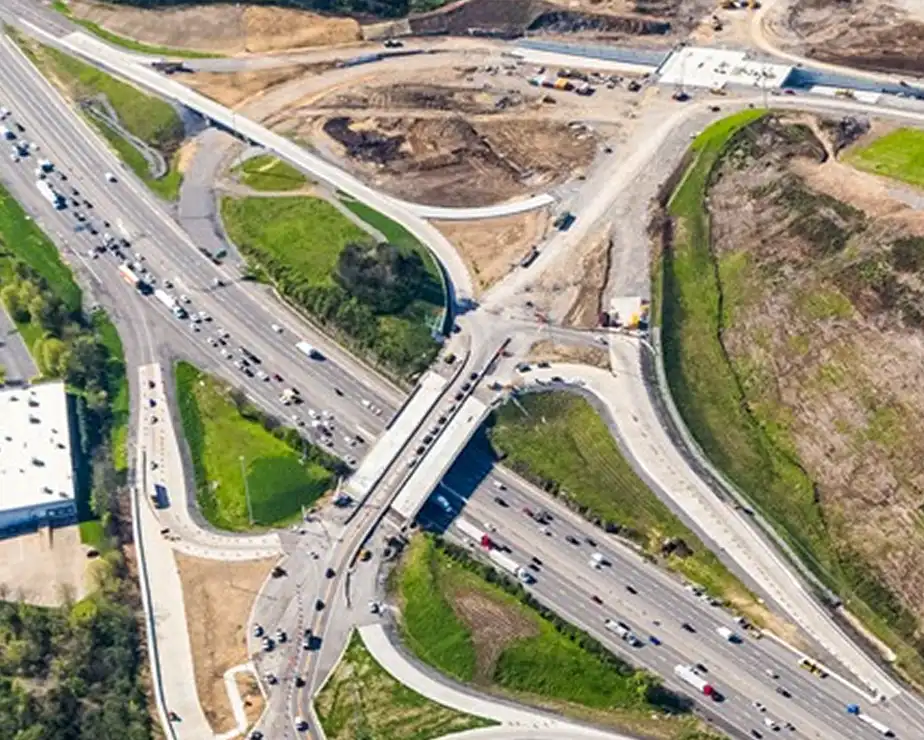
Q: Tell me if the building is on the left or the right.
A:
left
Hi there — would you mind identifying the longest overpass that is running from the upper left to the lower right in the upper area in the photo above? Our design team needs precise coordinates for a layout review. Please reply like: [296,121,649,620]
[59,30,489,326]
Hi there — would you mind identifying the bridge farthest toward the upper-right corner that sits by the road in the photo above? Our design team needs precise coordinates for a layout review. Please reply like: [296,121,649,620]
[657,42,791,89]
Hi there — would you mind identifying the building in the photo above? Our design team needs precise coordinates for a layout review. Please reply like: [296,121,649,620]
[0,382,78,522]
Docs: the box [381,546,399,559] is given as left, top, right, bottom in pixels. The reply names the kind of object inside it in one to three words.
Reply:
vehicle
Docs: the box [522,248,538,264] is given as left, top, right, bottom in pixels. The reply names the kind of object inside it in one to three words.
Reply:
vehicle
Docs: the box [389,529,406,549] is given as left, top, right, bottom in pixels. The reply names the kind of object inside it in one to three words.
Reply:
work vehicle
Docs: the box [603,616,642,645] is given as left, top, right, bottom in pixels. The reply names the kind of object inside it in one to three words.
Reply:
truck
